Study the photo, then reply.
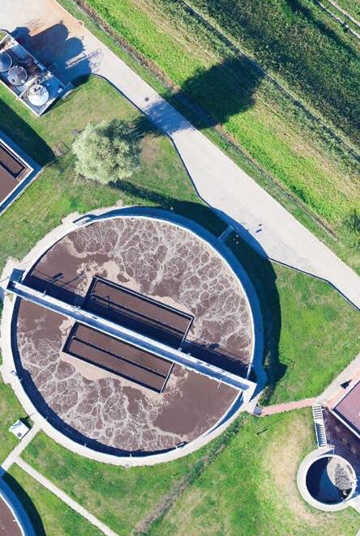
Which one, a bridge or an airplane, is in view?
bridge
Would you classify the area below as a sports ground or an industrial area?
industrial area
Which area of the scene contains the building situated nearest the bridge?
bottom right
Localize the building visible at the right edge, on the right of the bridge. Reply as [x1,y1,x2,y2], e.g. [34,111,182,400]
[330,376,360,434]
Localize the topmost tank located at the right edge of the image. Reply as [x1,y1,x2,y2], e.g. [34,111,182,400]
[298,447,360,510]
